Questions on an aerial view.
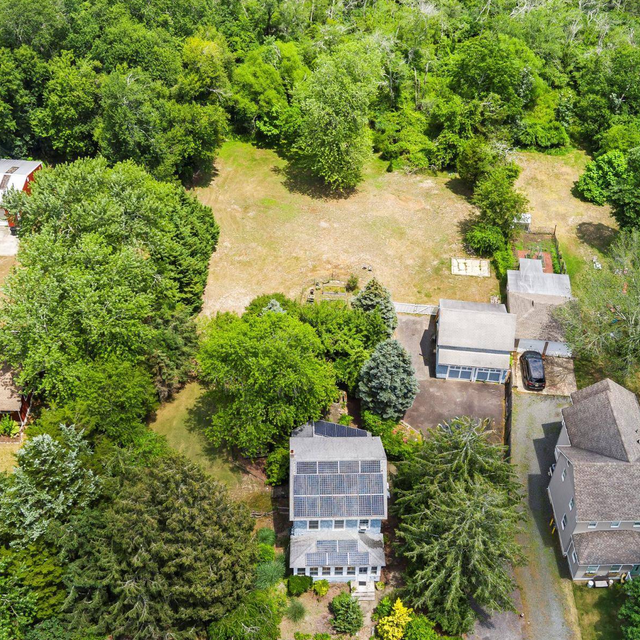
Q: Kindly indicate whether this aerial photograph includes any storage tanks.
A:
No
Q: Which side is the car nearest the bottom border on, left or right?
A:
right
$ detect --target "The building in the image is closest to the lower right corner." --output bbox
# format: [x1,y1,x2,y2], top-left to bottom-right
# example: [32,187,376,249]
[540,376,640,580]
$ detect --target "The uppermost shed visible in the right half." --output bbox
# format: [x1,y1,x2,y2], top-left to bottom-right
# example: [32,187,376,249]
[515,211,537,234]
